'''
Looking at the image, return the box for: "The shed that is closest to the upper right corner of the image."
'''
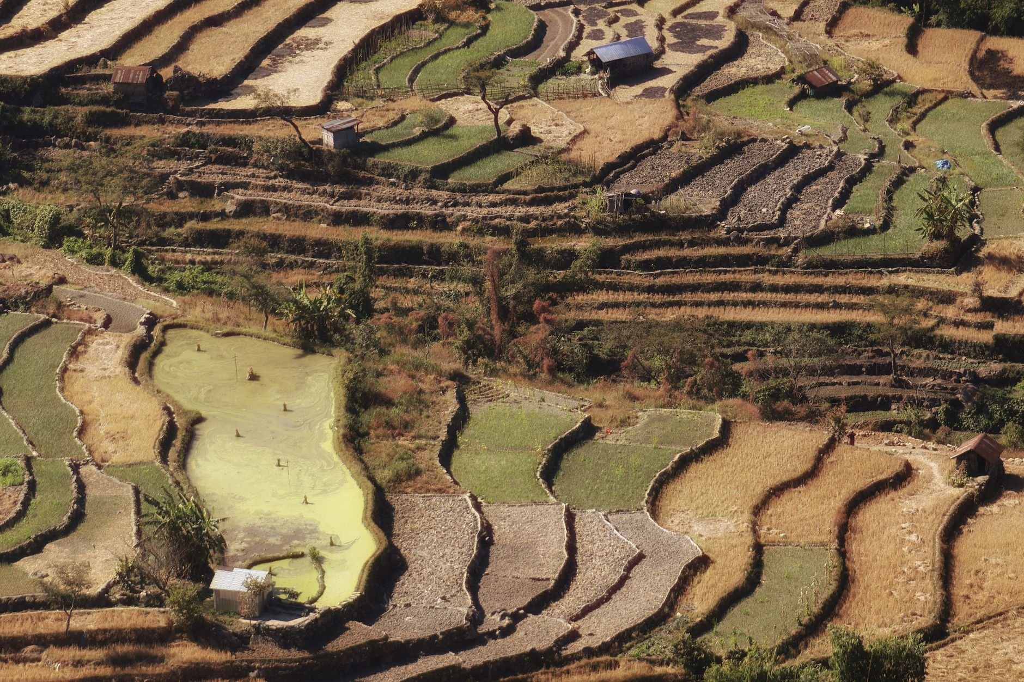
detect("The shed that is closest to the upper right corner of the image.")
[799,64,841,100]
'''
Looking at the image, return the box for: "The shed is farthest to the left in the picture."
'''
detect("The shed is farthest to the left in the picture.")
[109,64,153,105]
